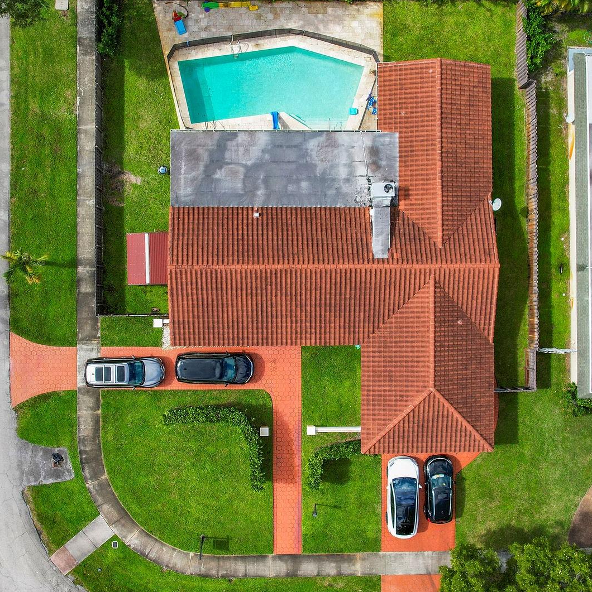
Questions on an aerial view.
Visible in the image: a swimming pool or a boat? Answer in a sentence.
It is a swimming pool that can be seen here.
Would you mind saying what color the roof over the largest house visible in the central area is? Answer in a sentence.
The roof over the largest house visible in the central area appears red.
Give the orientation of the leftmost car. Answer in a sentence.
What the image shows is the leftmost car lying from side to side.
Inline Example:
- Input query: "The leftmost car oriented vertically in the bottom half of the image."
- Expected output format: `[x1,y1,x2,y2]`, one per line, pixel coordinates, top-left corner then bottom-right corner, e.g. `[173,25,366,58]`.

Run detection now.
[385,459,424,538]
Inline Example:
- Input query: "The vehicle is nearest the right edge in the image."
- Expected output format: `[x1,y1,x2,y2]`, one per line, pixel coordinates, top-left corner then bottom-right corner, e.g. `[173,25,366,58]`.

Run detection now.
[424,458,460,525]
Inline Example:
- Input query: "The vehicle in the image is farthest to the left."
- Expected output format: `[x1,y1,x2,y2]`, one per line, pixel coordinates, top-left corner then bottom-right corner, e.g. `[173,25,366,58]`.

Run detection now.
[83,354,162,393]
